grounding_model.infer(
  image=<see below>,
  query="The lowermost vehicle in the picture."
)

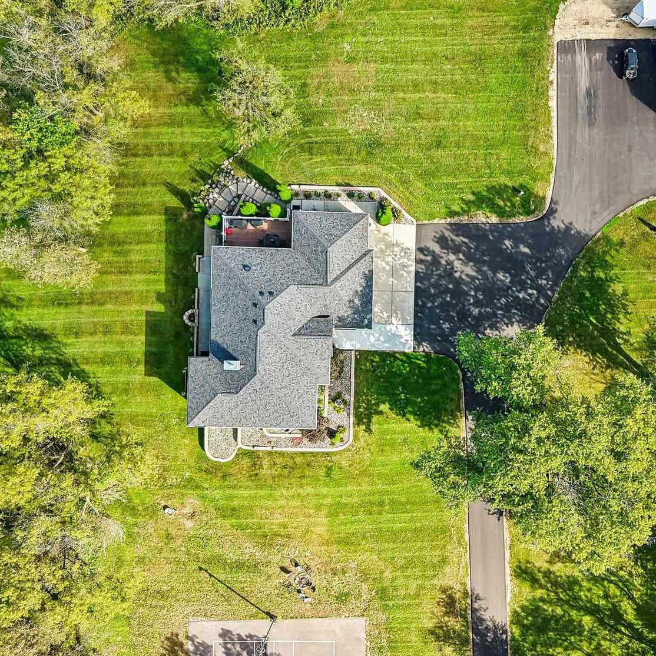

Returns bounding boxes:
[624,46,641,76]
